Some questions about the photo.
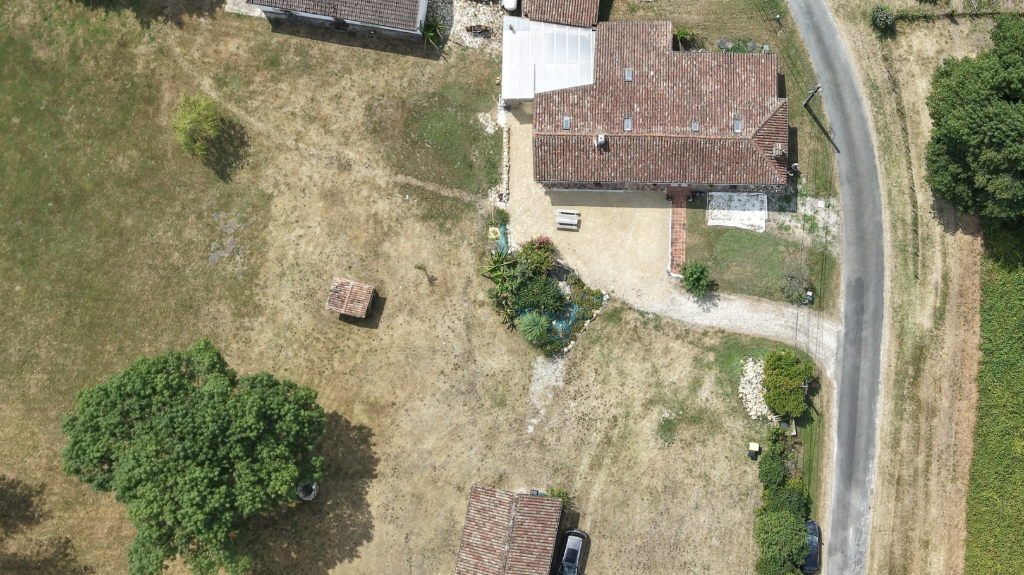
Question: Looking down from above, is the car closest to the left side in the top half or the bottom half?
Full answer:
It is in the bottom half that the car closest to the left side appears.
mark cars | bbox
[796,519,823,575]
[555,527,586,575]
